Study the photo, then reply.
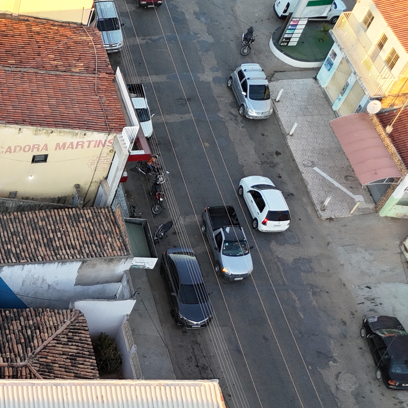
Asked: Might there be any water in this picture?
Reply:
No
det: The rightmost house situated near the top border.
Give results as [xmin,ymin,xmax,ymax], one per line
[309,0,408,119]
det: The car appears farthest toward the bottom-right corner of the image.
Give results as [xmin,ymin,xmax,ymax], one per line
[363,312,408,390]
